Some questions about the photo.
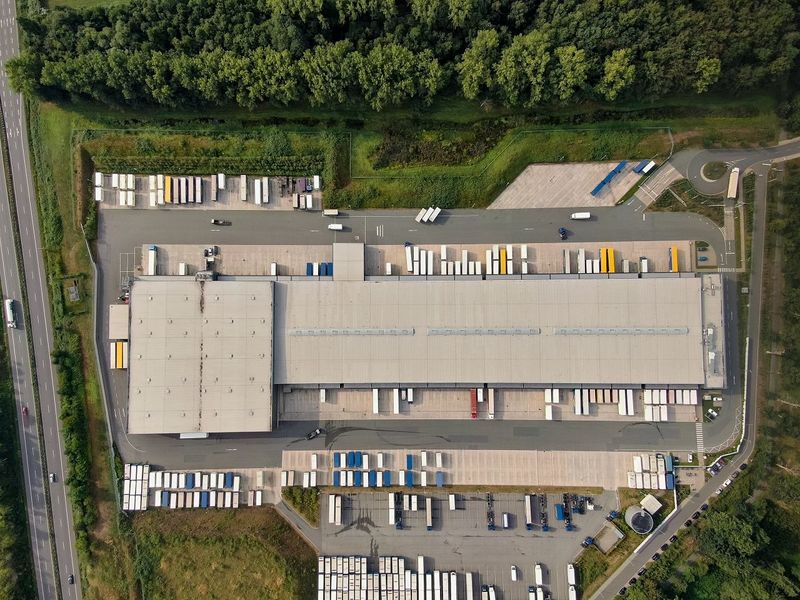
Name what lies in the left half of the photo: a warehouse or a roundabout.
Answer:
warehouse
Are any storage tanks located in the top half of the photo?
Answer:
No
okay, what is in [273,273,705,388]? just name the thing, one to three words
warehouse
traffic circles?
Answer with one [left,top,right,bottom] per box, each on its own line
[690,147,739,195]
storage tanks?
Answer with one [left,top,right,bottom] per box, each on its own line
[623,505,654,534]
